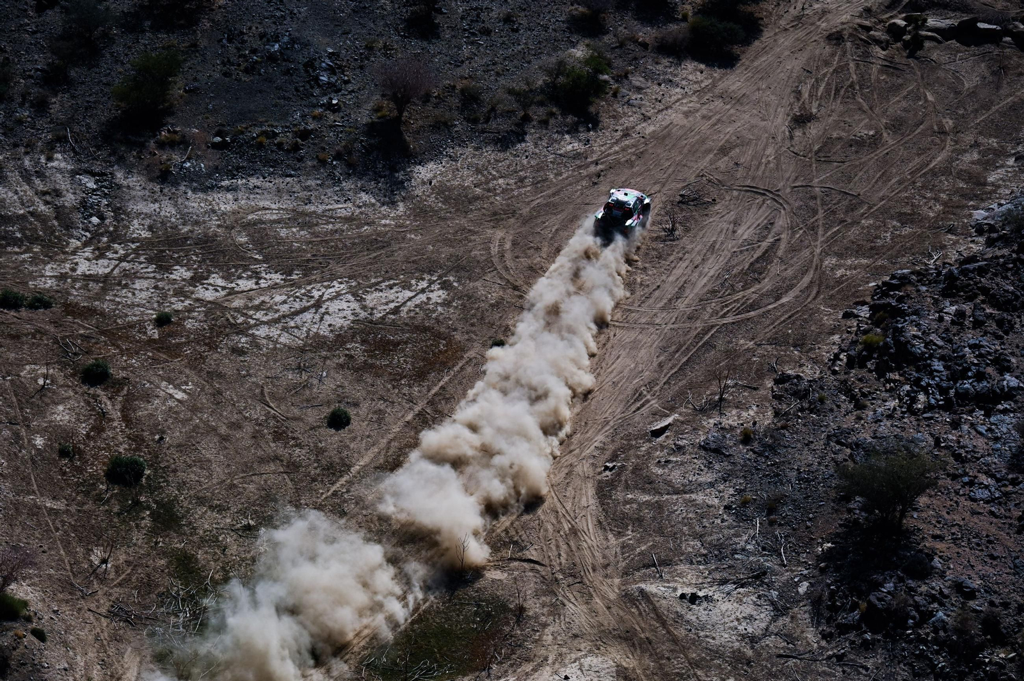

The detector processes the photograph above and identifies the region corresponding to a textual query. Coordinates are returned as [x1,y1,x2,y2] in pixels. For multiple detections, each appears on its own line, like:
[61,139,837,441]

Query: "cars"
[593,187,653,244]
